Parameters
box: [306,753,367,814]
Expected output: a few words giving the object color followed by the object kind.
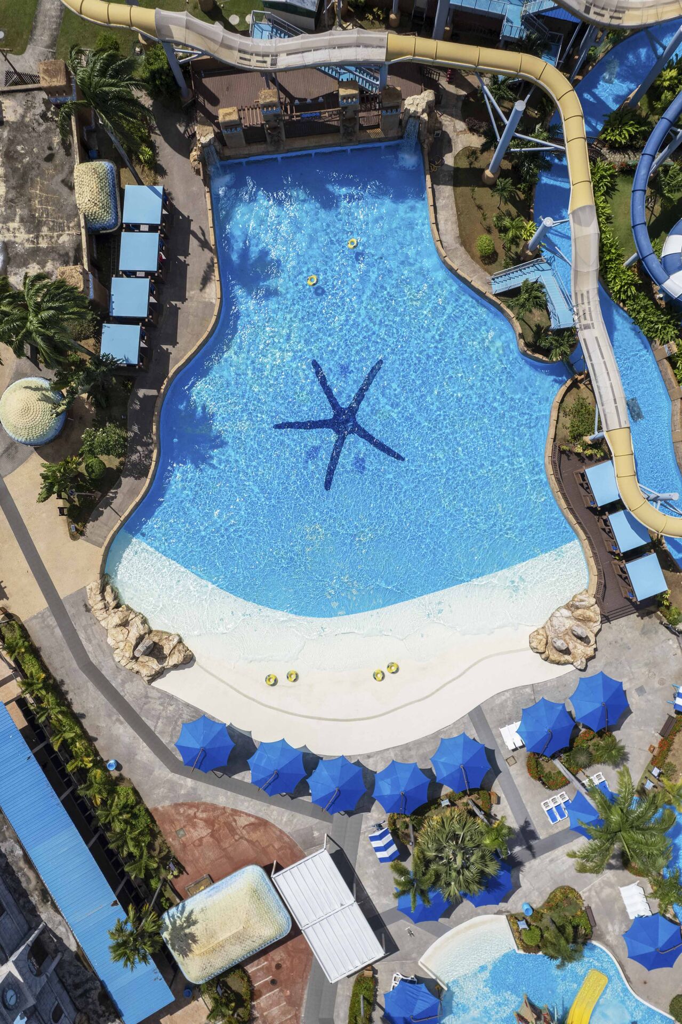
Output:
blue umbrella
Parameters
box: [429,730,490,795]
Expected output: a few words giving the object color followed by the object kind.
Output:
blue umbrella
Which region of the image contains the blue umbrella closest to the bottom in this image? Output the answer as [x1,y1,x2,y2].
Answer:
[382,967,451,1024]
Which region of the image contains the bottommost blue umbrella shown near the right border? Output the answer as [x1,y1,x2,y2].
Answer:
[621,904,682,965]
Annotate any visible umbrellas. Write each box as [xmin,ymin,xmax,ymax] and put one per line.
[429,730,490,795]
[621,904,682,965]
[176,714,236,776]
[514,695,574,758]
[394,862,452,924]
[306,753,367,814]
[457,853,511,908]
[371,757,431,822]
[247,737,308,797]
[382,967,451,1024]
[567,669,627,734]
